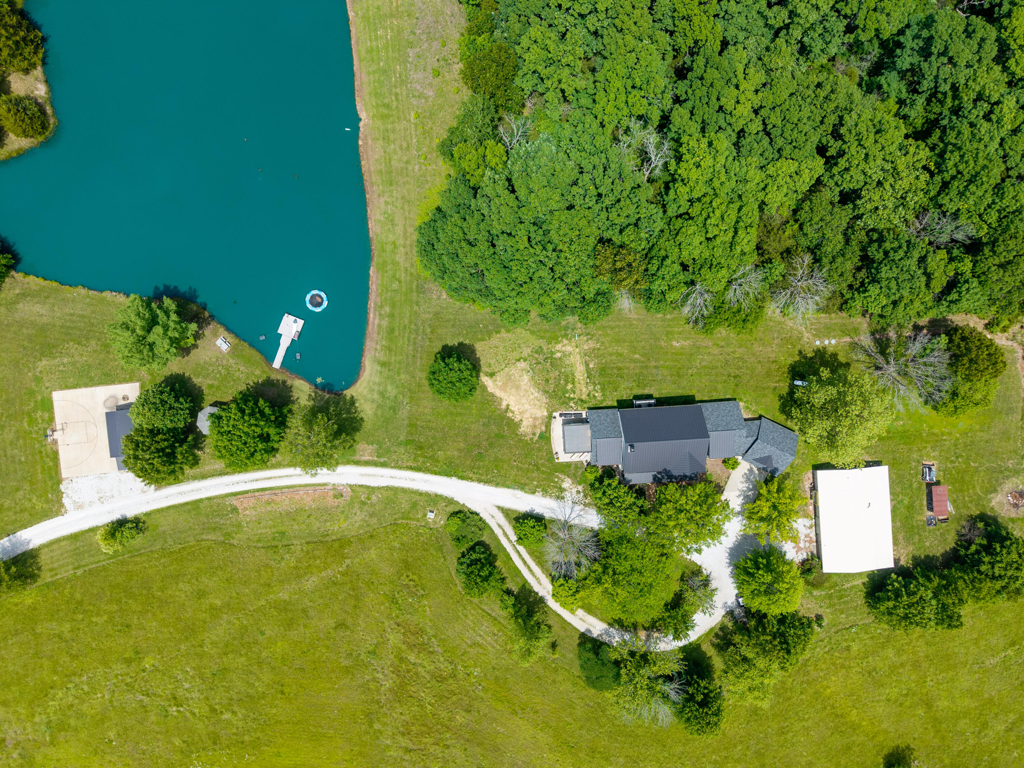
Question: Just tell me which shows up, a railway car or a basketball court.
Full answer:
The image shows a basketball court.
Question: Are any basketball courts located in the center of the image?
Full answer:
No, I see no basketball court in the center of the image.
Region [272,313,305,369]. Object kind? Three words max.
pier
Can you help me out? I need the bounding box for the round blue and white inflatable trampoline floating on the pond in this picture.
[306,290,328,312]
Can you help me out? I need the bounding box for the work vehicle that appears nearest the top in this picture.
[920,461,937,484]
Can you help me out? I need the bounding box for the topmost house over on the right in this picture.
[588,399,798,483]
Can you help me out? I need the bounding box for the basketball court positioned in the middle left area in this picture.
[52,383,148,478]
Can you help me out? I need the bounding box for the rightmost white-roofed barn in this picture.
[811,466,894,573]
